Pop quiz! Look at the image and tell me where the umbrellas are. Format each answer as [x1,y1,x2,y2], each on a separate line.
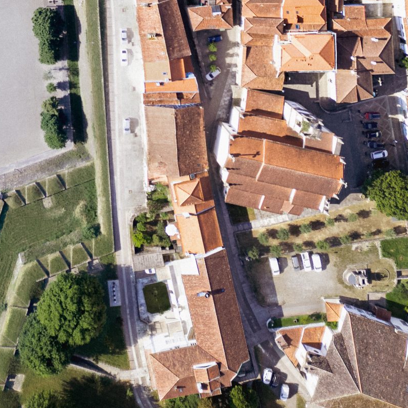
[164,223,177,235]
